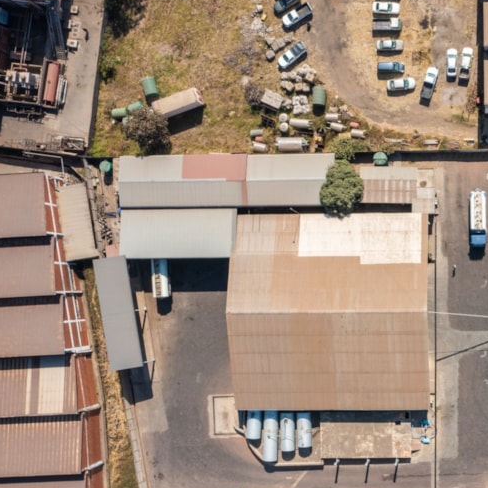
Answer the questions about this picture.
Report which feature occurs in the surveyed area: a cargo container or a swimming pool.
cargo container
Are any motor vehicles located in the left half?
Yes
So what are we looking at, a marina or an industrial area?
industrial area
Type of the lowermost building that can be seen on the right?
warehouse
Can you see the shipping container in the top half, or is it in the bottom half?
top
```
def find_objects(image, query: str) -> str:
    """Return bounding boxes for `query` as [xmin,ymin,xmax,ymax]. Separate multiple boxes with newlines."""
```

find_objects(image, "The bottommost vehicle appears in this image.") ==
[153,259,174,299]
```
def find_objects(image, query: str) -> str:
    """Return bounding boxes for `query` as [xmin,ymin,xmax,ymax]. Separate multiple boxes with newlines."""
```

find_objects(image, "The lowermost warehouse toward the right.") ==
[226,213,428,410]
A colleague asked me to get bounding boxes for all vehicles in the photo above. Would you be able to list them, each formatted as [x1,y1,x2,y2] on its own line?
[283,4,313,29]
[377,40,404,54]
[468,190,488,249]
[458,51,471,81]
[278,41,308,69]
[153,259,174,299]
[274,0,303,15]
[372,2,400,16]
[445,49,458,77]
[378,60,404,75]
[372,19,402,32]
[421,70,437,102]
[386,77,416,93]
